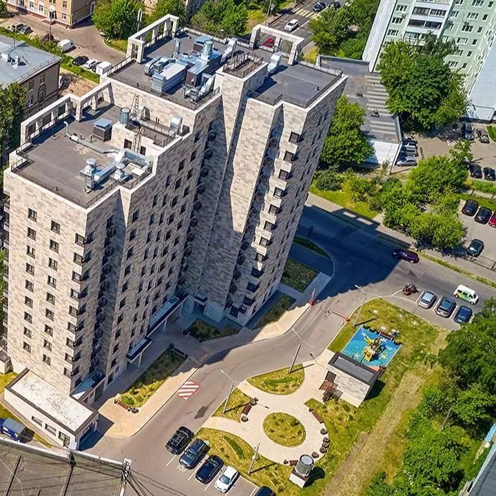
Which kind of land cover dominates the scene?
buildings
